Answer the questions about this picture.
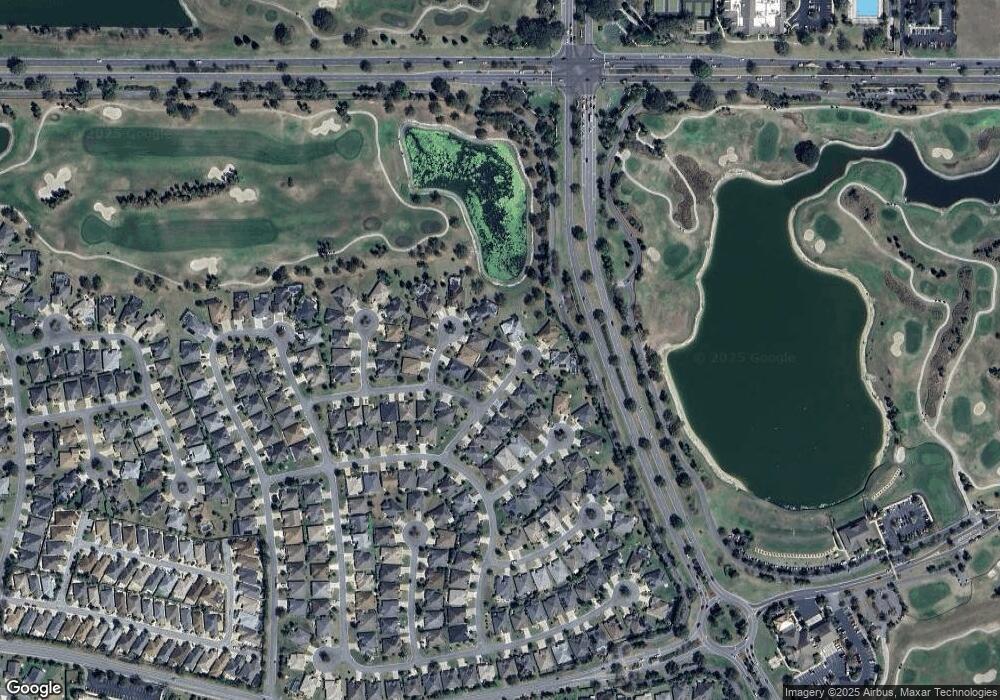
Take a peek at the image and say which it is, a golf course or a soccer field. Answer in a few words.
golf course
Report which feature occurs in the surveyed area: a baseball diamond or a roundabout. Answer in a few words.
roundabout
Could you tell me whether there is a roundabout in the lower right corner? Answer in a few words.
Yes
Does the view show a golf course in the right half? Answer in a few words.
Yes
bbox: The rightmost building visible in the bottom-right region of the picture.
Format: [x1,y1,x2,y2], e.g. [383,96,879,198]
[829,519,871,557]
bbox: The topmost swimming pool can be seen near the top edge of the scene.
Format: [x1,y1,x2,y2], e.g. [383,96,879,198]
[851,0,884,26]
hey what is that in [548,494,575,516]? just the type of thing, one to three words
house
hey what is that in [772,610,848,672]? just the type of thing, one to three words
building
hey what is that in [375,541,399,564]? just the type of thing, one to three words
house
